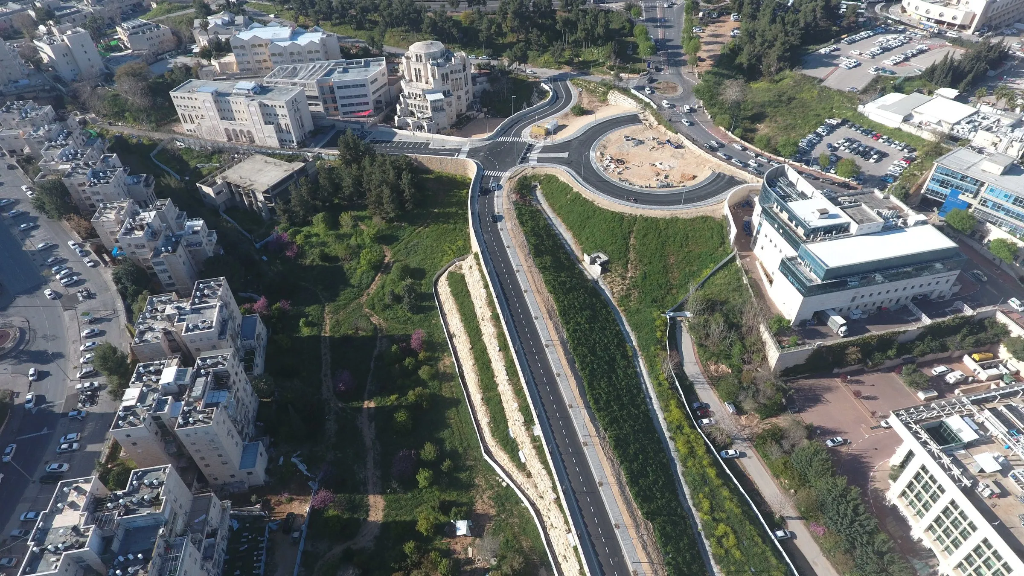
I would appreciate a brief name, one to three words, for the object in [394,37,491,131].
building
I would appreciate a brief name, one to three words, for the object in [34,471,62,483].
vehicle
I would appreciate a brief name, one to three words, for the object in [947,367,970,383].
camper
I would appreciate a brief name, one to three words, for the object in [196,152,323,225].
building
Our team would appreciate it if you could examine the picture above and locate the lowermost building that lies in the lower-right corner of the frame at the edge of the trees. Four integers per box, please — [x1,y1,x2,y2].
[877,383,1024,576]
